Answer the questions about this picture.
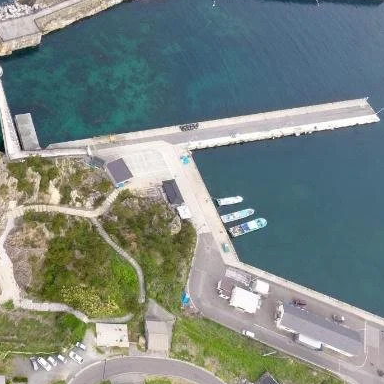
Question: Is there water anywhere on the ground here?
Yes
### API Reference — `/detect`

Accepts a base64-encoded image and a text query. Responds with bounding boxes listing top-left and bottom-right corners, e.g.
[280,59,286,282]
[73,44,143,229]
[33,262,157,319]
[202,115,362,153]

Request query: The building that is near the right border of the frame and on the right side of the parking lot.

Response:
[274,304,365,358]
